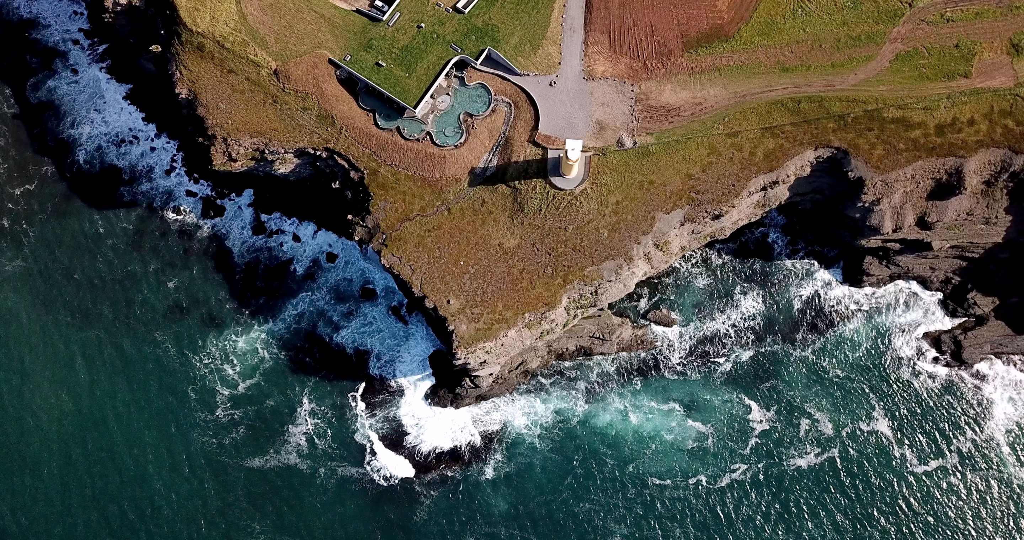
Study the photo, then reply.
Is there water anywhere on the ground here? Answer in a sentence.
Yes, the picture does contain water.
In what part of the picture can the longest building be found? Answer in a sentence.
Look in the top portion of the view to spot the longest building.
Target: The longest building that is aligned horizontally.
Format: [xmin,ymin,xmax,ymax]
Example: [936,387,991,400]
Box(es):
[329,47,520,115]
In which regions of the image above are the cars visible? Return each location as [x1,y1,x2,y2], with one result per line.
[369,7,383,18]
[374,0,389,13]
